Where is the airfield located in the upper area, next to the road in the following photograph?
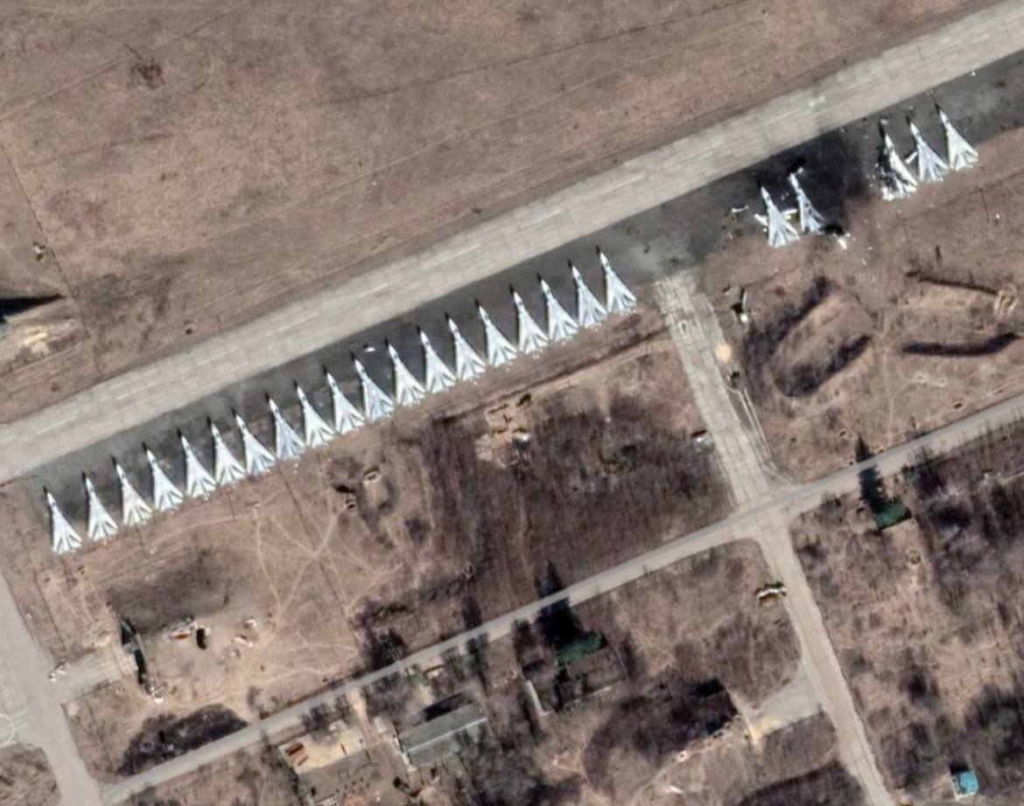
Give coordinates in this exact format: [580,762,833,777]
[0,0,1024,560]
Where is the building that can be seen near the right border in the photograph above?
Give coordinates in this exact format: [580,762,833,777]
[948,768,976,794]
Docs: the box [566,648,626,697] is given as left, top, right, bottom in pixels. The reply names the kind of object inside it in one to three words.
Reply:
building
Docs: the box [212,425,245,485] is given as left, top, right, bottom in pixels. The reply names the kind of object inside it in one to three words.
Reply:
airplane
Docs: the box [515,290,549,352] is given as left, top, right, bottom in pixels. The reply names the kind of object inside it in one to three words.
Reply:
airplane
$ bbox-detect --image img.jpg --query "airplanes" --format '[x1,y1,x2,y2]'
[390,344,426,404]
[886,135,917,192]
[762,184,797,246]
[515,290,549,352]
[212,425,245,485]
[911,124,948,182]
[356,358,394,418]
[421,327,456,391]
[601,250,636,313]
[182,435,215,497]
[940,112,977,170]
[46,490,80,553]
[117,465,151,525]
[271,399,305,459]
[450,317,486,378]
[542,277,579,339]
[481,307,517,366]
[85,474,117,539]
[791,173,827,232]
[237,415,275,474]
[575,267,608,326]
[299,387,335,447]
[327,369,365,432]
[148,451,183,510]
